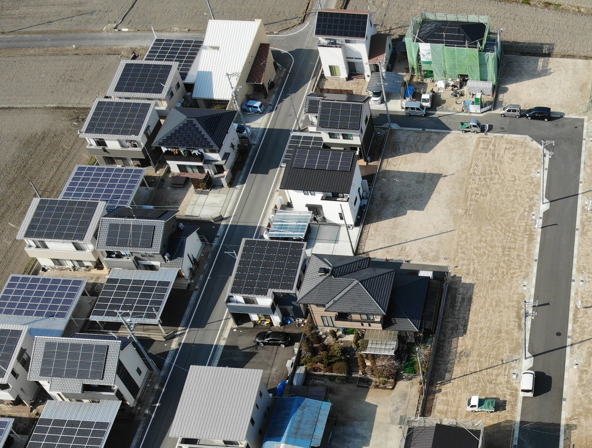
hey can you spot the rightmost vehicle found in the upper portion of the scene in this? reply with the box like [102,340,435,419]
[525,104,554,120]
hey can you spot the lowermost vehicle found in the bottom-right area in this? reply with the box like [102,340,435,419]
[467,396,495,412]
